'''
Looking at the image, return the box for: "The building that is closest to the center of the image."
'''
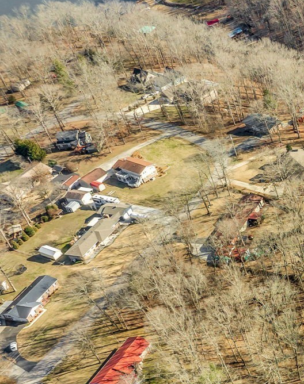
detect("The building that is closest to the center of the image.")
[112,156,157,190]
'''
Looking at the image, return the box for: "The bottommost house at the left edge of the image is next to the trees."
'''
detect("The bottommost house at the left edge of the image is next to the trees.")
[0,276,59,325]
